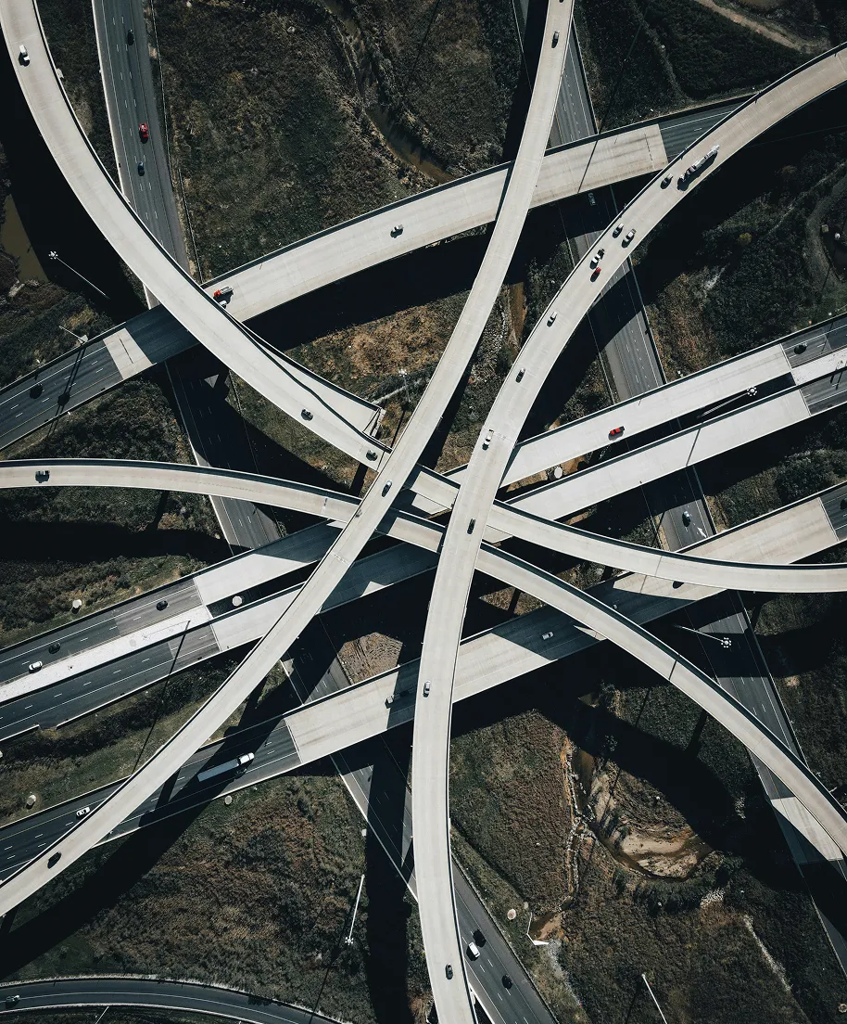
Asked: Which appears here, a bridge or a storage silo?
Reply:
bridge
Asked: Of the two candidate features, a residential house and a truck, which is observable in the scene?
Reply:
truck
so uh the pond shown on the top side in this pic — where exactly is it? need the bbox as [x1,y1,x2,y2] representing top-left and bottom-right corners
[0,174,61,284]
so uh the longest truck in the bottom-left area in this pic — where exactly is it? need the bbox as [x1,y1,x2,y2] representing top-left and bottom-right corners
[196,753,251,782]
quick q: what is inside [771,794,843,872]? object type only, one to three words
bridge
